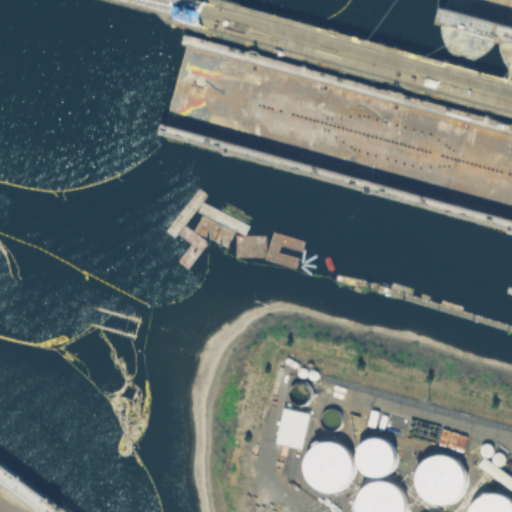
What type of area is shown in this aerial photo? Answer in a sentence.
This image shows an industrial area.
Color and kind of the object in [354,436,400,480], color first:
white storage tank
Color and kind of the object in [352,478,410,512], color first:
white storage tank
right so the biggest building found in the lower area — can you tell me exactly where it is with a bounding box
[277,408,312,450]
